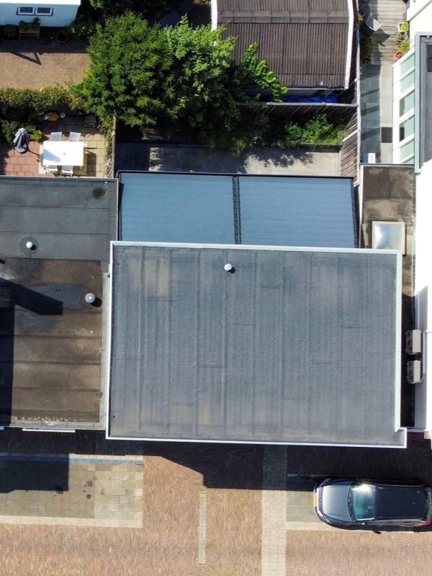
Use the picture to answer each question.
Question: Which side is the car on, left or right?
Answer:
right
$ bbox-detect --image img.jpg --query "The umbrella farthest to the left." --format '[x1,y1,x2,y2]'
[14,139,28,158]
